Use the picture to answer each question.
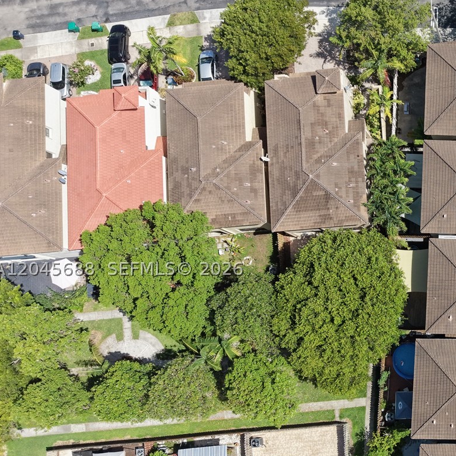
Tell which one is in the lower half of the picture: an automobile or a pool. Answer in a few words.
pool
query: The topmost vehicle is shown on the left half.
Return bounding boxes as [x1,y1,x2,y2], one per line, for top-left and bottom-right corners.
[106,22,131,66]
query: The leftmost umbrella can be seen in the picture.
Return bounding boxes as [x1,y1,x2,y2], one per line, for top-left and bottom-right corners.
[48,257,79,289]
